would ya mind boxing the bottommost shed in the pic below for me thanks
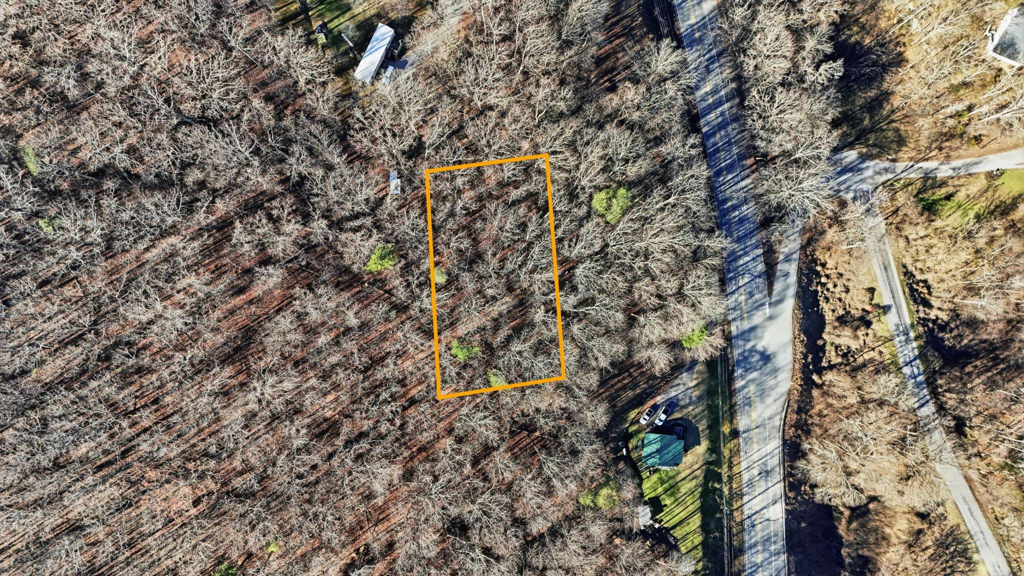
[637,503,653,529]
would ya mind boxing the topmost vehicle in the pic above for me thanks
[383,65,396,85]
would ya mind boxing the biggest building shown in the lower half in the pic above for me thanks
[642,431,684,468]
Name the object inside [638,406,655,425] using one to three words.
vehicle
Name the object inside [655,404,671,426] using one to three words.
vehicle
